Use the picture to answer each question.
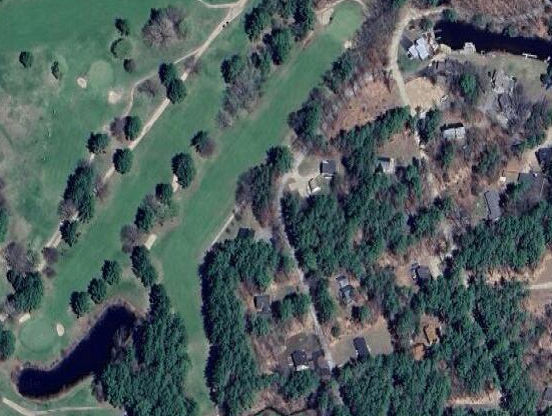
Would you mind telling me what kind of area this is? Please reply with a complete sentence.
This looks like a golf course.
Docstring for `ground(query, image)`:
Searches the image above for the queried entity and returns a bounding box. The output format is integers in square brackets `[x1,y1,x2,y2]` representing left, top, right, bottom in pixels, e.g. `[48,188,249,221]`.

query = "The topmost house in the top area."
[403,39,435,61]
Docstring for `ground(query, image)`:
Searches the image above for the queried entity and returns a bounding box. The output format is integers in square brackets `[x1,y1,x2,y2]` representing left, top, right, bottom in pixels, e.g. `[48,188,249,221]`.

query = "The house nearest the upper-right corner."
[493,70,514,95]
